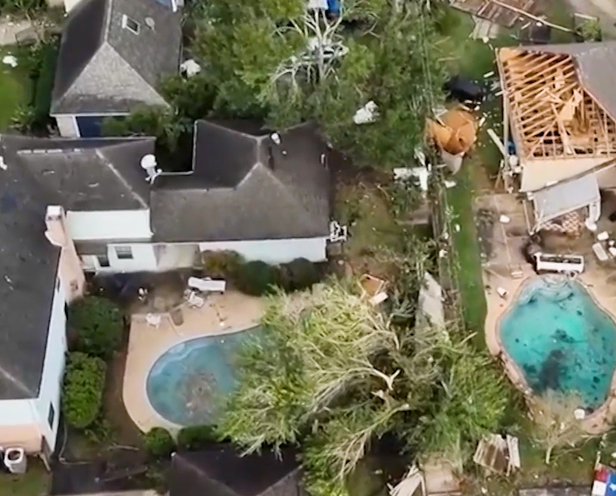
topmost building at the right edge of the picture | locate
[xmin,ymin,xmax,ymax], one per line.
[496,41,616,191]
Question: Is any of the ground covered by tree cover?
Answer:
Yes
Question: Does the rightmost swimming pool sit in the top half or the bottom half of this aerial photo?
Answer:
bottom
